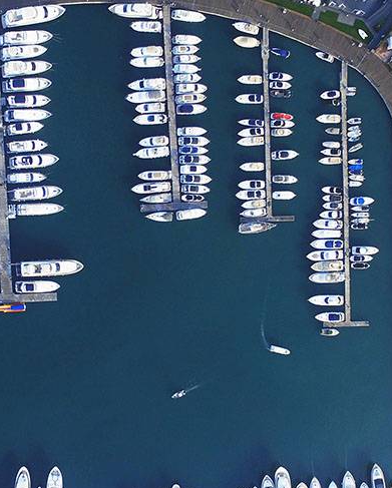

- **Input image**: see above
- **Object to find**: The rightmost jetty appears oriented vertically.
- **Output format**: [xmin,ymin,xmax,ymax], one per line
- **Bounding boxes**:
[322,60,369,328]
